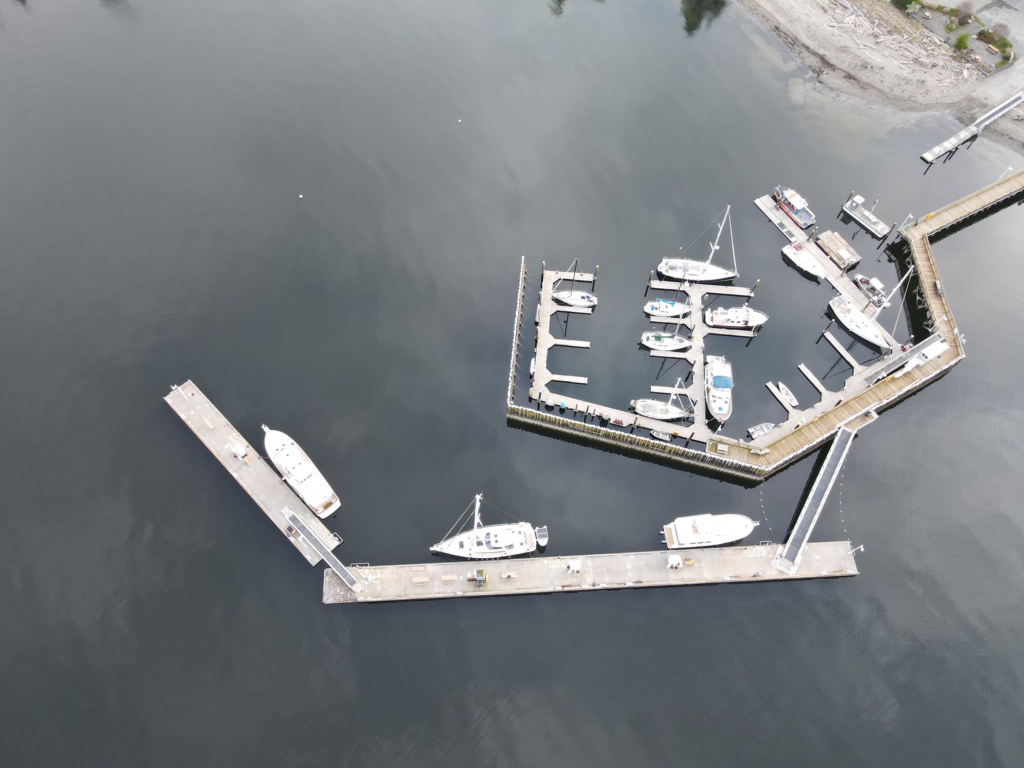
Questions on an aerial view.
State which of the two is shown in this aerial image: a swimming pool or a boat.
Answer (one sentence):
This aerial view contains a boat.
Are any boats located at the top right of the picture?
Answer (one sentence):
Yes, at the top right of the picture there is a boat.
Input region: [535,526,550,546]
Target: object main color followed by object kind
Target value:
white boat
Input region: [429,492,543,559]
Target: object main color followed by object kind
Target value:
white boat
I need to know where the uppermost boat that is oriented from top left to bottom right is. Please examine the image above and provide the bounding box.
[775,183,818,230]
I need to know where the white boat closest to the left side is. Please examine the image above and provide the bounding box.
[259,421,344,522]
